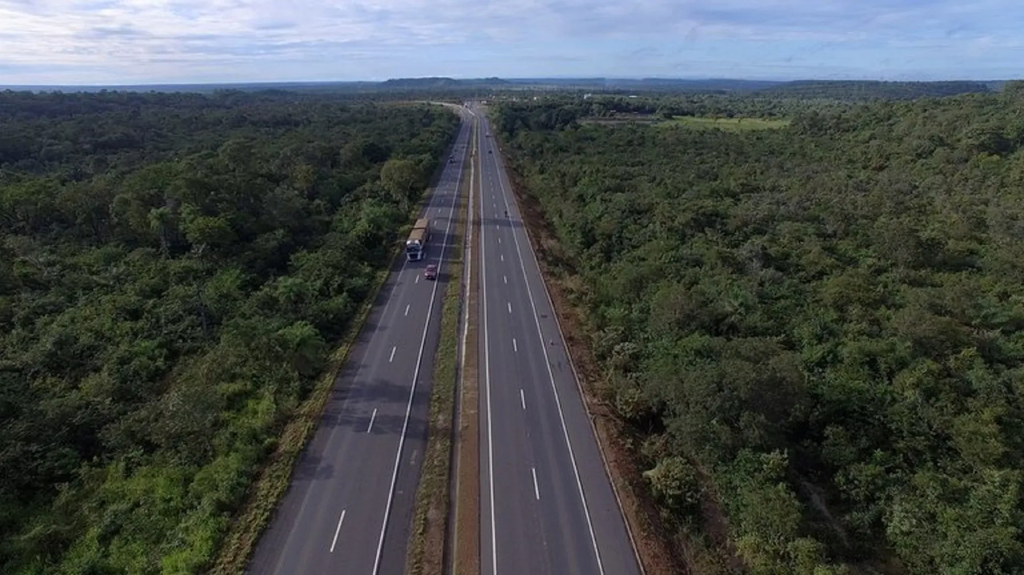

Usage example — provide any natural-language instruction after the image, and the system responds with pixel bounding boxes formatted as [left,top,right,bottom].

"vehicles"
[406,218,430,259]
[426,266,437,278]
